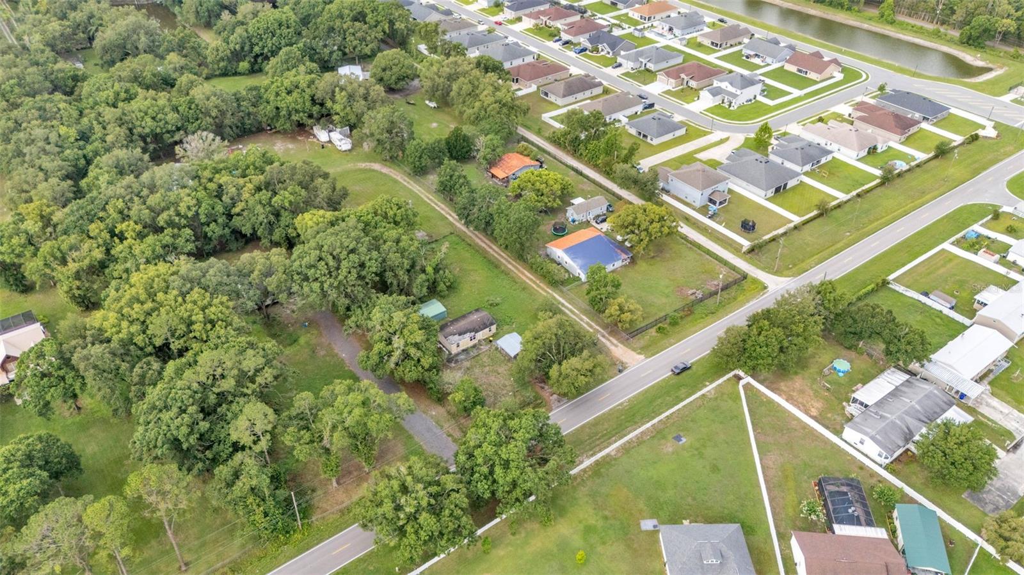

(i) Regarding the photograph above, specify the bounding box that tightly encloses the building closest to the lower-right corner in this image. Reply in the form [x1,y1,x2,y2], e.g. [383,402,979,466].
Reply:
[893,504,957,575]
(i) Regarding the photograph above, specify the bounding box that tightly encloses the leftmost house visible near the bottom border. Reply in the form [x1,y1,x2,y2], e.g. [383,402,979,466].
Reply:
[659,523,756,575]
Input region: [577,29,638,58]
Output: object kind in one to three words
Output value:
house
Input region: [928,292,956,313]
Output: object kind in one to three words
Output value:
shed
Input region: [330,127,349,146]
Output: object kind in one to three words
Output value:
camper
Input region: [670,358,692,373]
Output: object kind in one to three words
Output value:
car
